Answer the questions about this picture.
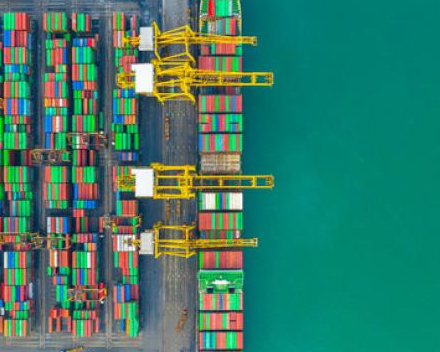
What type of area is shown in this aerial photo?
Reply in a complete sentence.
The picture captures a port.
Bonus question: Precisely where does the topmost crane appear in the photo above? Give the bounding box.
[123,24,257,68]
